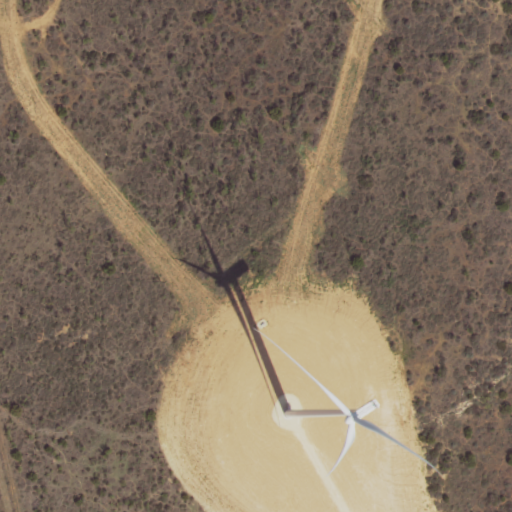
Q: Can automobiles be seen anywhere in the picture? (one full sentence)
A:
No, no automobile is visible in the scene.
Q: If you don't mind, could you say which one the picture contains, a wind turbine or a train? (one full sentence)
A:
Looking from above, you can make out a wind turbine.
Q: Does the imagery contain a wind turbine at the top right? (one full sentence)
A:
No, no wind turbine is visible at the top right.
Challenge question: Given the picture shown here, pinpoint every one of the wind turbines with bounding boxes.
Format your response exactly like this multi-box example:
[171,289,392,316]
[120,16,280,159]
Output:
[255,328,442,477]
